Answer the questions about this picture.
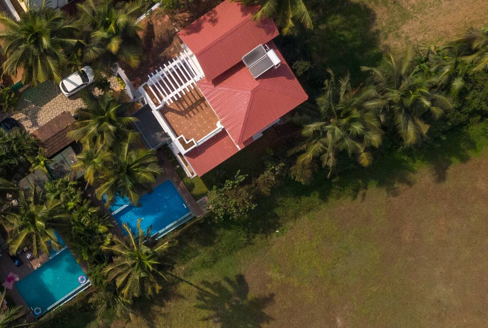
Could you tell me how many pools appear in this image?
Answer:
2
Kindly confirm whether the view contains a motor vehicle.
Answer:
Yes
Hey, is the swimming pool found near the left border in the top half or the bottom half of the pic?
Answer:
bottom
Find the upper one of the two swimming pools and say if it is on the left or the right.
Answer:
left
